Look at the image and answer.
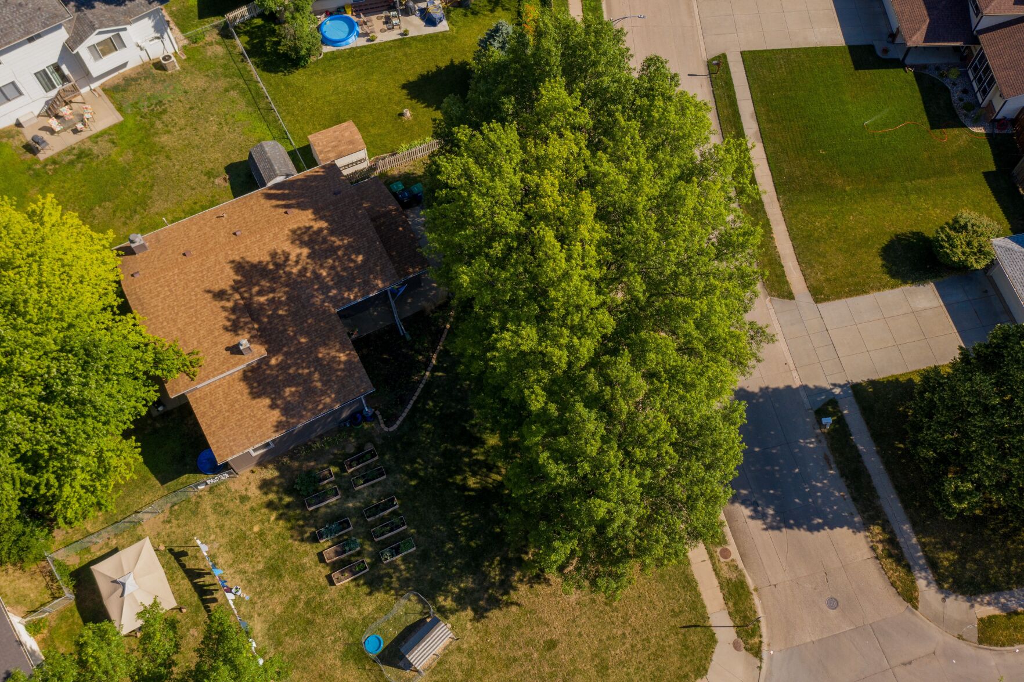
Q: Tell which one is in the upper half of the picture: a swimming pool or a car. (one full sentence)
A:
You can see a swimming pool in the upper half of the picture.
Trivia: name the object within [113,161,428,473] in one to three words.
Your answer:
house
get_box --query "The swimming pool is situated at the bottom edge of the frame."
[362,633,383,655]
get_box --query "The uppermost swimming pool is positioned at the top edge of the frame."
[320,15,358,46]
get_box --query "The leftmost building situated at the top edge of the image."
[0,0,175,127]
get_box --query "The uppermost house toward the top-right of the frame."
[880,0,1024,119]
